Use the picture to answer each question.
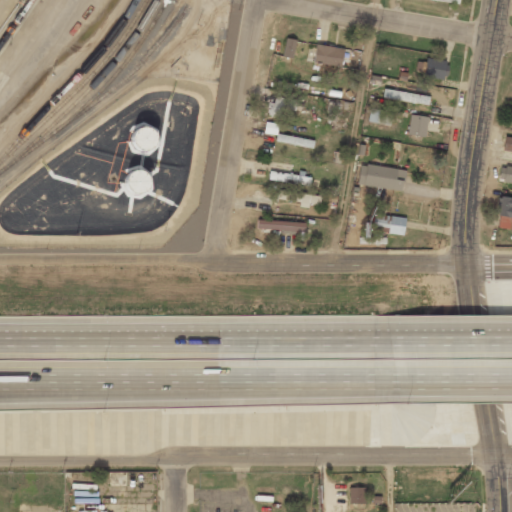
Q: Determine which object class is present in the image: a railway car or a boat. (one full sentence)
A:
Visible in the photo is a railway car.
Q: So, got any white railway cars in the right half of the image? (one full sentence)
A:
No, looking in the right half of the image, there is no white railway car.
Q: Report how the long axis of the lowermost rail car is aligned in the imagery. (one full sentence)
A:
I'd say the lowermost rail car is aligned on a diagonal in the picture.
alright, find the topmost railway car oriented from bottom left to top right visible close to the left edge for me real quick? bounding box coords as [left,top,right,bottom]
[14,0,39,24]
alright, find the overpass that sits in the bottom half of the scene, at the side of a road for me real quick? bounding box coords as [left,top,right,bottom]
[374,316,512,406]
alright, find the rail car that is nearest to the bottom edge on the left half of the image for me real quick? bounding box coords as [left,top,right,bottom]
[16,104,52,141]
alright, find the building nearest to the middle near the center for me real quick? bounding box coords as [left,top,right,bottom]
[258,220,307,232]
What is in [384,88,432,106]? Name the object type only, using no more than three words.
house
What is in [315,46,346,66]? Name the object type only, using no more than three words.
house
